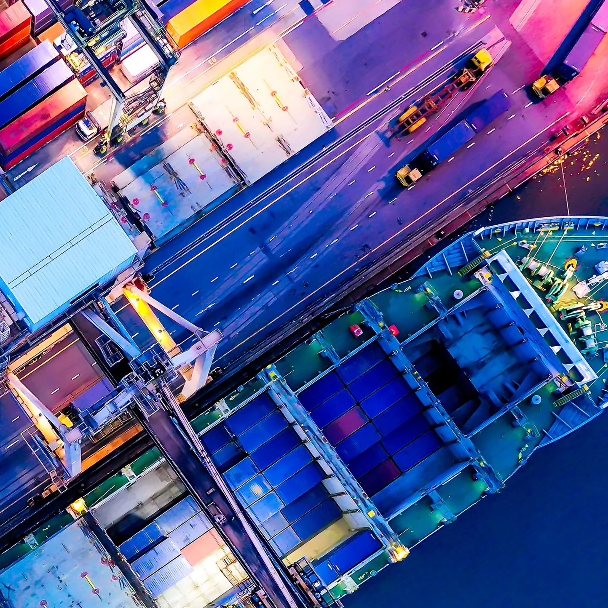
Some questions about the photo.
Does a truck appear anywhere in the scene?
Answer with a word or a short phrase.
Yes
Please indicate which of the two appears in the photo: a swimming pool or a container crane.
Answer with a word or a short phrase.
container crane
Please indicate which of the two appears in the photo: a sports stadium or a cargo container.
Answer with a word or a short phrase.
cargo container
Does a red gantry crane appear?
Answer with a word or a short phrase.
No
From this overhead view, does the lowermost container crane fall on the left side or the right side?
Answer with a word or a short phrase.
left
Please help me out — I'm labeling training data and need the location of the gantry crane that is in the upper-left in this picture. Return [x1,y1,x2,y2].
[37,0,184,156]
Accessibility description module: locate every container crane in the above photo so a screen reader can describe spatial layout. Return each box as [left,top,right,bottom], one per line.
[37,0,184,156]
[0,155,349,608]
